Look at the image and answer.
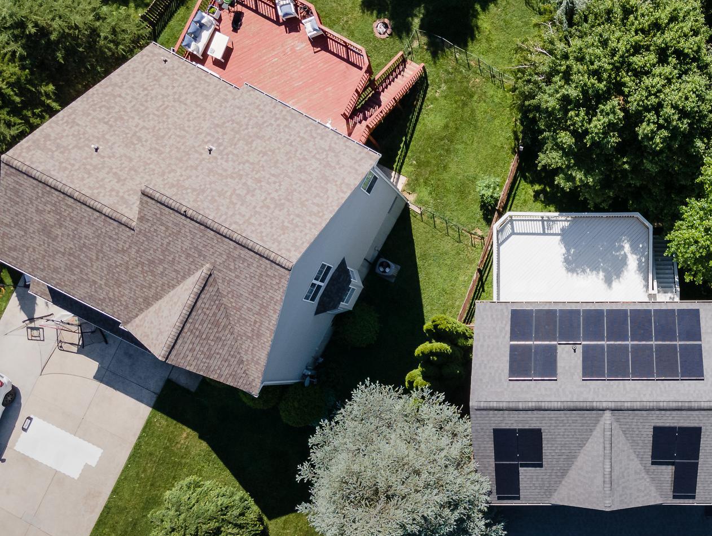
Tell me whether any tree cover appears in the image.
Yes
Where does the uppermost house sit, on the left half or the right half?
left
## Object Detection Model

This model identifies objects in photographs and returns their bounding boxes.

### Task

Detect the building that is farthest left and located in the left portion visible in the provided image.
[0,42,414,397]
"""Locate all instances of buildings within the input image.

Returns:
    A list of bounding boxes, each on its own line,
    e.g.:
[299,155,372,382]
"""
[469,299,712,536]
[0,42,414,397]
